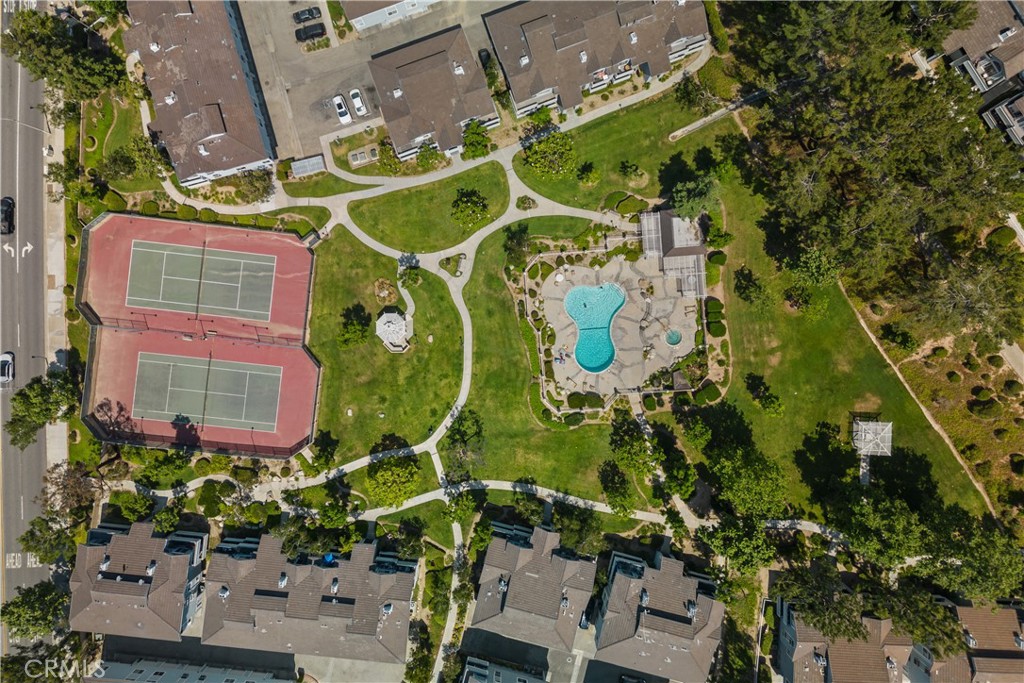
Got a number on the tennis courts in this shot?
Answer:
two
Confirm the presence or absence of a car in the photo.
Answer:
Yes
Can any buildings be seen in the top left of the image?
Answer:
Yes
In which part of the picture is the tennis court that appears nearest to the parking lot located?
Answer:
left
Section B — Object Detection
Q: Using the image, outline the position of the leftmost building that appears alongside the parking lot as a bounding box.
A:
[122,0,275,197]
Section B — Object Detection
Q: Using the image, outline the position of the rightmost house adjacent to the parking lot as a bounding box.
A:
[482,0,707,120]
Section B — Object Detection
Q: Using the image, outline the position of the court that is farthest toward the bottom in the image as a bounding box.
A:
[95,326,314,455]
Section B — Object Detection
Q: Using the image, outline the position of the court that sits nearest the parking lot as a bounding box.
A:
[85,216,310,345]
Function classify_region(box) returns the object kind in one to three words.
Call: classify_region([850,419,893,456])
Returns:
building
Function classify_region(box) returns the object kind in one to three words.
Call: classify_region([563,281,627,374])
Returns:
swimming pool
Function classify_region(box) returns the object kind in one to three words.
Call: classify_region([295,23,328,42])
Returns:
car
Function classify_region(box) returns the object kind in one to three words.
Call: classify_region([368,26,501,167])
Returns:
house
